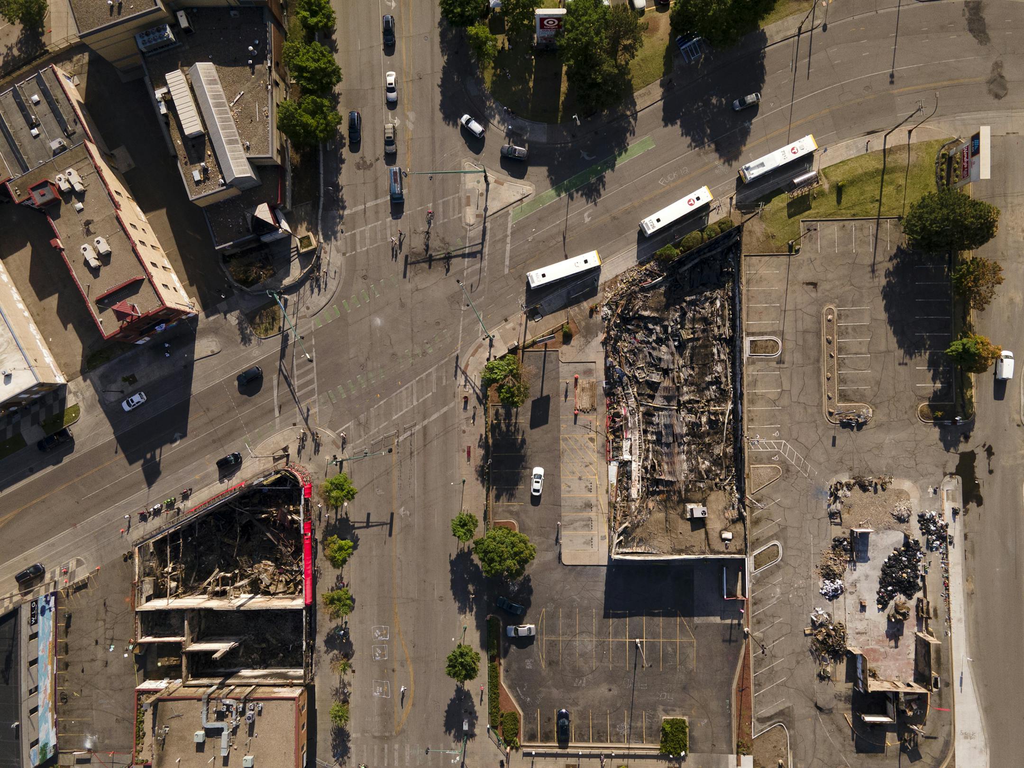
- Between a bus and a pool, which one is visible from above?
bus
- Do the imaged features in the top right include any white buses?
Yes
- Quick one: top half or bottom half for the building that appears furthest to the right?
bottom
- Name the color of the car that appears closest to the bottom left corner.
black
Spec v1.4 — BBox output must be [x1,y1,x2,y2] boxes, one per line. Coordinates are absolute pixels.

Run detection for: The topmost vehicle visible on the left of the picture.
[381,13,396,46]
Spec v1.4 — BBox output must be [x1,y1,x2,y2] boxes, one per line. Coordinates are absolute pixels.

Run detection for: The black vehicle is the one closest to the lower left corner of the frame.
[15,563,47,585]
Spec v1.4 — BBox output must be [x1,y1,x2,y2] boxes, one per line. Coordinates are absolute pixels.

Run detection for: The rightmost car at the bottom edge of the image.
[556,709,570,742]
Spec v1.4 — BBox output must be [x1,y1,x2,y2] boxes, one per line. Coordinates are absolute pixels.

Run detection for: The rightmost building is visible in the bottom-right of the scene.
[842,626,938,723]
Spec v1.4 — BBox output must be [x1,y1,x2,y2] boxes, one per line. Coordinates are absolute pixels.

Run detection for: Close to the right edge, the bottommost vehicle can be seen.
[995,351,1014,380]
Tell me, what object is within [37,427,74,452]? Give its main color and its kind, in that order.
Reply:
black truck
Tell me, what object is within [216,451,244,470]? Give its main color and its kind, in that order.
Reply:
black car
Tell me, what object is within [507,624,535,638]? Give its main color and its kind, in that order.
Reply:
gray car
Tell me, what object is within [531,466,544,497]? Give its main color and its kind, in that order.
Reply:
white vehicle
